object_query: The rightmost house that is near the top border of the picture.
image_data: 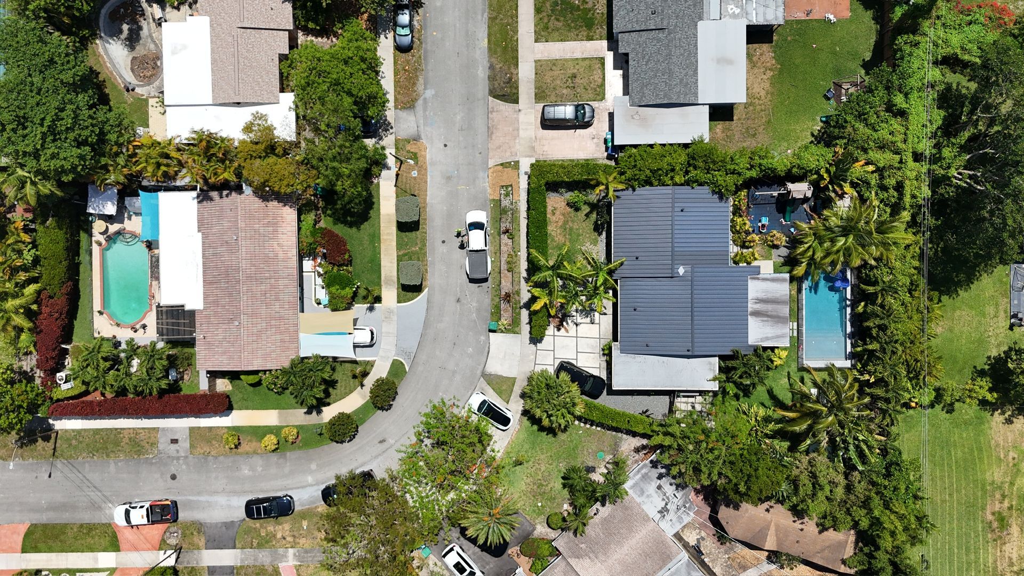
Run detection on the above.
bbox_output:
[613,0,747,145]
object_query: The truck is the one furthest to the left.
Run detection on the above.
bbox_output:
[114,497,182,528]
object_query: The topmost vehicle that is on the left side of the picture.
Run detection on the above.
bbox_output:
[391,0,416,54]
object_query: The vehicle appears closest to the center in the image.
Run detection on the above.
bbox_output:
[463,212,490,280]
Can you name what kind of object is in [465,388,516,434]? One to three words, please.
car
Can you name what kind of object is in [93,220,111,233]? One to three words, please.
umbrella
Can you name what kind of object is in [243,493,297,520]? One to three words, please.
car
